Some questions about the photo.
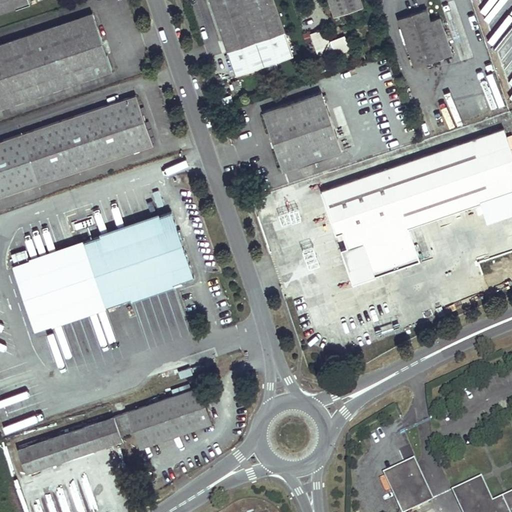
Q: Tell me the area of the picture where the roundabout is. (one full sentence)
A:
The roundabout sits in the bottom section of the image.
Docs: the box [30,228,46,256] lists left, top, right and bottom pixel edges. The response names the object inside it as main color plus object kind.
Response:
white vehicle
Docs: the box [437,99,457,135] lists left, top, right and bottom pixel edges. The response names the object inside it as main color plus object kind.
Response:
white vehicle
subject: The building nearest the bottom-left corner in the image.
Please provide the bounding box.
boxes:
[18,420,122,478]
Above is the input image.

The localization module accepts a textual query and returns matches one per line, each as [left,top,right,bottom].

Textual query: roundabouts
[231,375,353,500]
